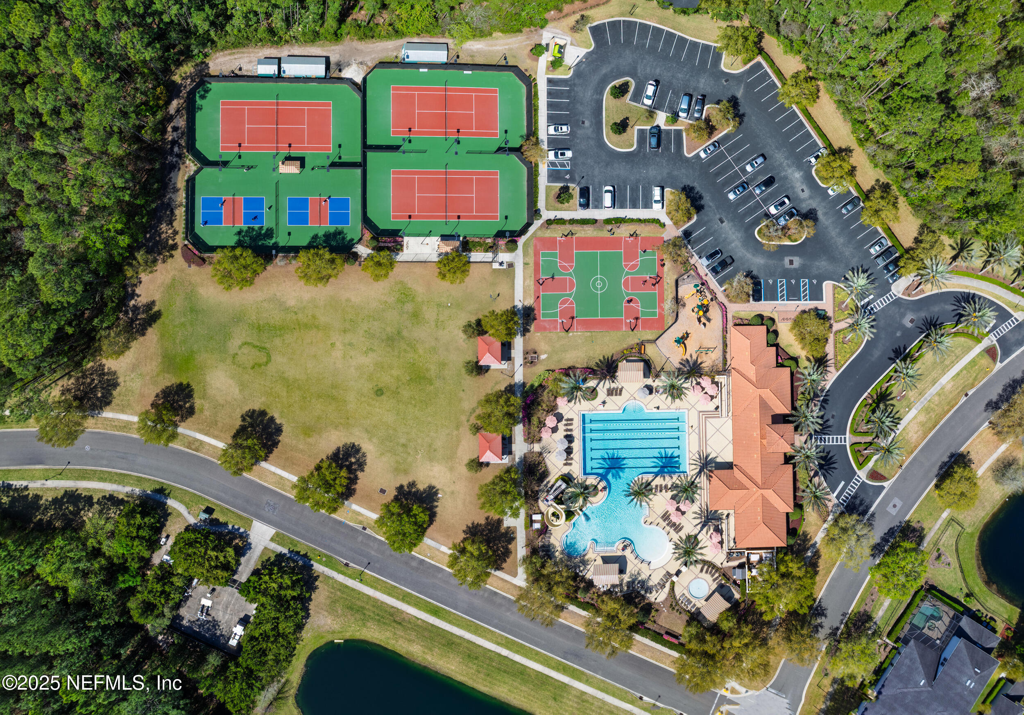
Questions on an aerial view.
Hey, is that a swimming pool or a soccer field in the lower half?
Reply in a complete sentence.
Looking in the lower half, you will find a swimming pool.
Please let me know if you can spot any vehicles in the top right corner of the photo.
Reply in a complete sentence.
Yes, a vehicle appears in the top right corner of the photo.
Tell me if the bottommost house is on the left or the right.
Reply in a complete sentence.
The bottommost house is on the right side of the image.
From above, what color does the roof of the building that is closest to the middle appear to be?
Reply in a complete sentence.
The roof of the building that is closest to the middle is red.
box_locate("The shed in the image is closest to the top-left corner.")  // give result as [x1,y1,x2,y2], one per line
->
[256,59,281,81]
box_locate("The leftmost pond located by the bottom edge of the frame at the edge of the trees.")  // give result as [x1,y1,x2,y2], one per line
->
[297,640,530,715]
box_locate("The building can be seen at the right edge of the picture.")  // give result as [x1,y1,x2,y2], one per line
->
[854,614,1024,715]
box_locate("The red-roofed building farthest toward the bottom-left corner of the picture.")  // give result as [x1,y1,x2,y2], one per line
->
[479,432,507,462]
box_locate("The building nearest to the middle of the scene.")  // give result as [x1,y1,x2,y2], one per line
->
[478,337,506,367]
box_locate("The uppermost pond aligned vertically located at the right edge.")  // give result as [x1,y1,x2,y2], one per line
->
[976,492,1024,613]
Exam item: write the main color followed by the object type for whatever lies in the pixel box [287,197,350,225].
blue sports court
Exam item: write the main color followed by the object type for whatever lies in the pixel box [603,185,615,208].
white vehicle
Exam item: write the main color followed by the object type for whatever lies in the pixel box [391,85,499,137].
red tennis court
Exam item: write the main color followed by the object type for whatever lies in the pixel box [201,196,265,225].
blue sports court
